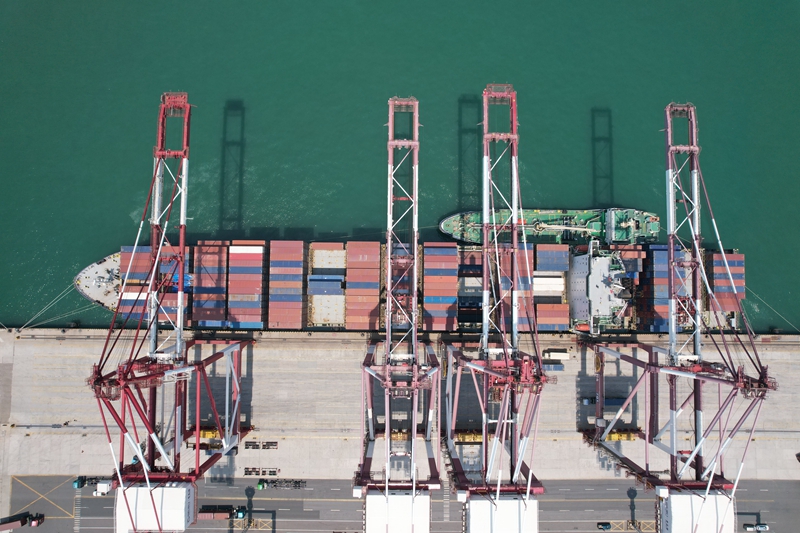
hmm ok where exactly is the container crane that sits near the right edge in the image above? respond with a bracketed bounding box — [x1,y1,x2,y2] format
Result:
[570,100,773,533]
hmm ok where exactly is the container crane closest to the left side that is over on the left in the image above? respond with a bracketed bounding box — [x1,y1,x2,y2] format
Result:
[85,87,266,533]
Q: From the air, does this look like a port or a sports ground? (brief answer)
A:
port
